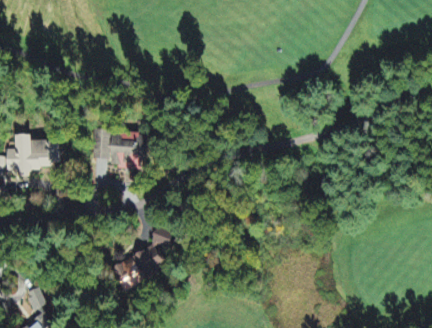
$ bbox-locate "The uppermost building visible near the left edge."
[0,134,60,180]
